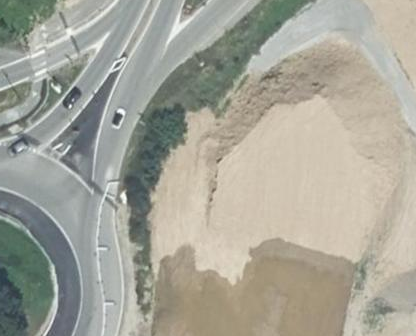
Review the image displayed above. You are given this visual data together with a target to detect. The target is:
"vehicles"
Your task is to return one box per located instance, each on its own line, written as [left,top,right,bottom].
[63,86,82,108]
[113,107,126,129]
[8,138,30,155]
